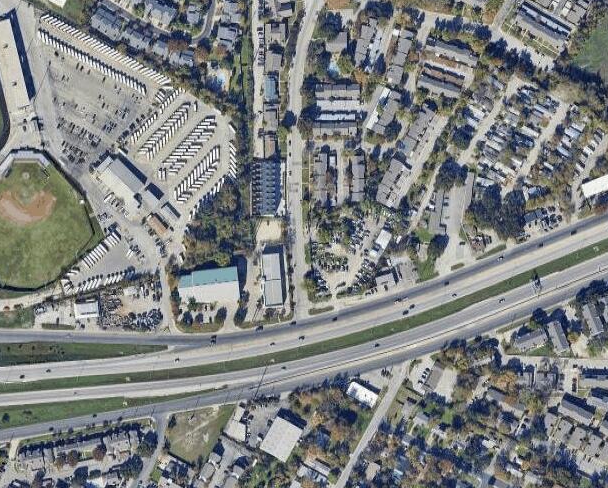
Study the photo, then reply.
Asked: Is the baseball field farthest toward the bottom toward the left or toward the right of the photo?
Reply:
left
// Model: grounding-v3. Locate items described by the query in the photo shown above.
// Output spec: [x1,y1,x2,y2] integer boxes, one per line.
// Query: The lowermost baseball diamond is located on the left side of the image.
[0,159,101,290]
